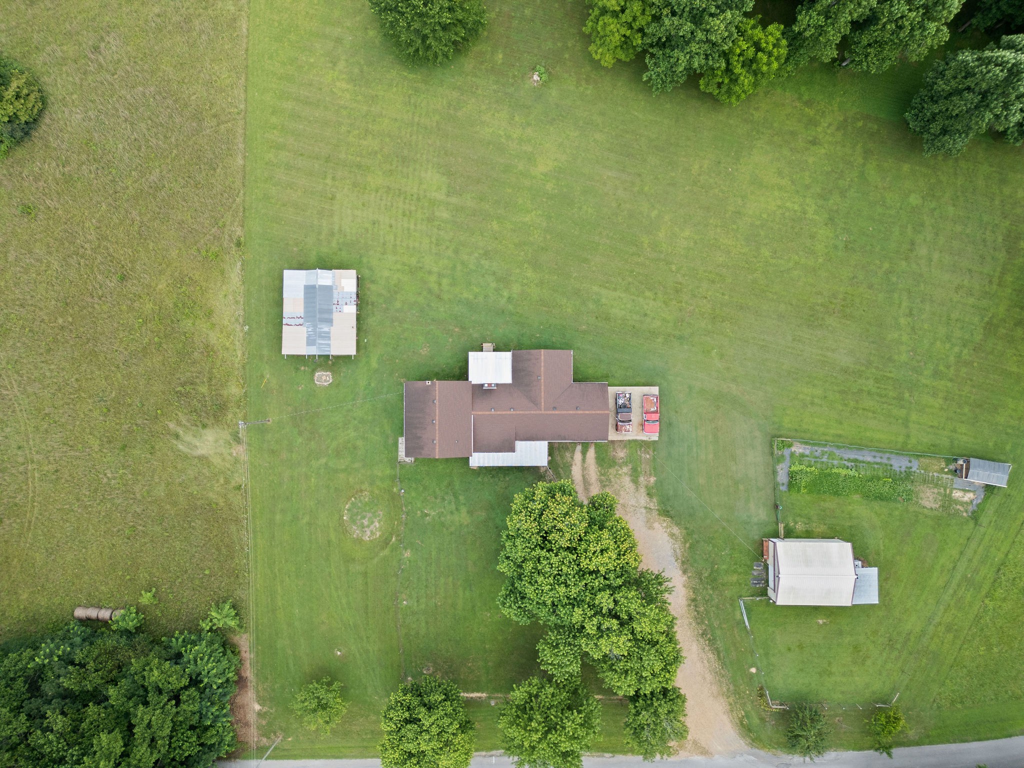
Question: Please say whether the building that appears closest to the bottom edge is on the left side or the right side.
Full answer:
It is on the right.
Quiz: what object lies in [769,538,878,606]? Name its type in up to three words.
building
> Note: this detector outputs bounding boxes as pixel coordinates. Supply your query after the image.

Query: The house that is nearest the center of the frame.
[403,349,611,466]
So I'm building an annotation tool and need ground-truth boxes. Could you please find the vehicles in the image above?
[642,395,660,437]
[616,392,634,434]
